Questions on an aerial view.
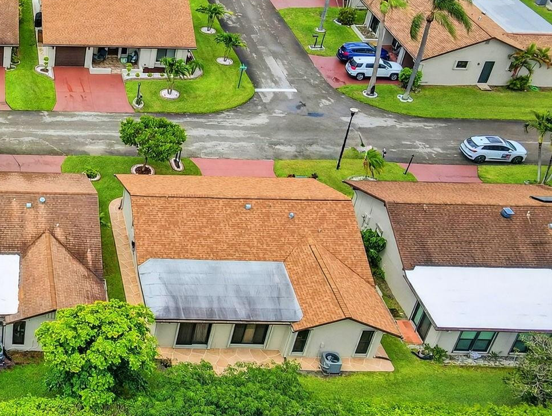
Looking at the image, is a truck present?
No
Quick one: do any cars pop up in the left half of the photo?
No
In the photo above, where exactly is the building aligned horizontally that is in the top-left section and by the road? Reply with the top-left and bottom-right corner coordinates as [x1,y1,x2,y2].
[40,0,197,74]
